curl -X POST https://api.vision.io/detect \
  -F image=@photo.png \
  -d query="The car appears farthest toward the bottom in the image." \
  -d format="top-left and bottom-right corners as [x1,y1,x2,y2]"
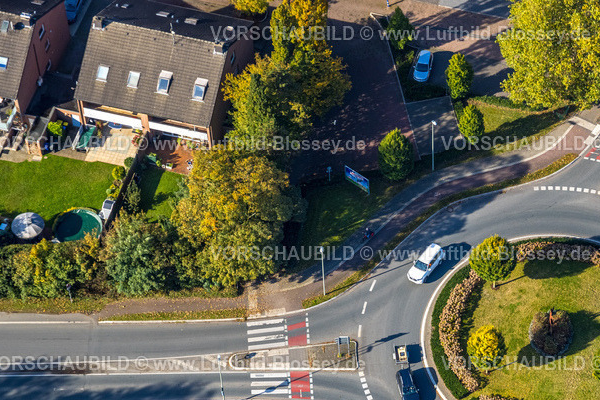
[396,365,420,400]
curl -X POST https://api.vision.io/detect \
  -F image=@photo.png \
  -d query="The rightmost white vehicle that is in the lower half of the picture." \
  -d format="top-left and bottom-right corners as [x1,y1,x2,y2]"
[409,243,443,283]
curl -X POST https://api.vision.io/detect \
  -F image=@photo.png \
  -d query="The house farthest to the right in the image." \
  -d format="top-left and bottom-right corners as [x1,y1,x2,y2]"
[73,0,251,144]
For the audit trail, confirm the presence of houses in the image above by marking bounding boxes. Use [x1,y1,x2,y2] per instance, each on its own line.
[0,0,67,123]
[73,0,251,144]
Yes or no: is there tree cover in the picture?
Yes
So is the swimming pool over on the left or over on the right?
left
